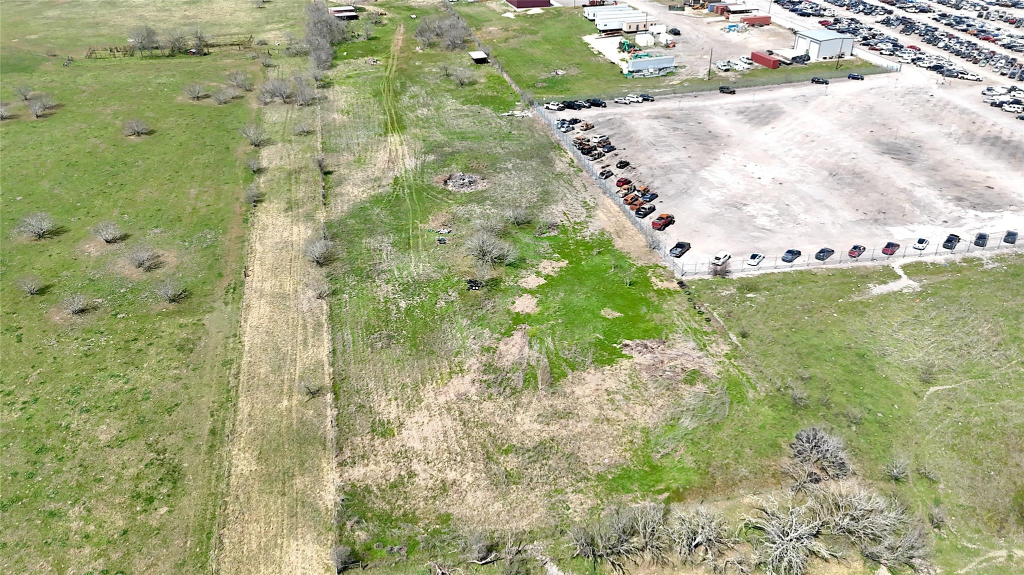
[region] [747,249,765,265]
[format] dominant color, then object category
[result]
white car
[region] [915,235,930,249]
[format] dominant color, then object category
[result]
white car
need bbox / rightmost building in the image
[796,26,859,58]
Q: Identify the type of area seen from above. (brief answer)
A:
farmland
